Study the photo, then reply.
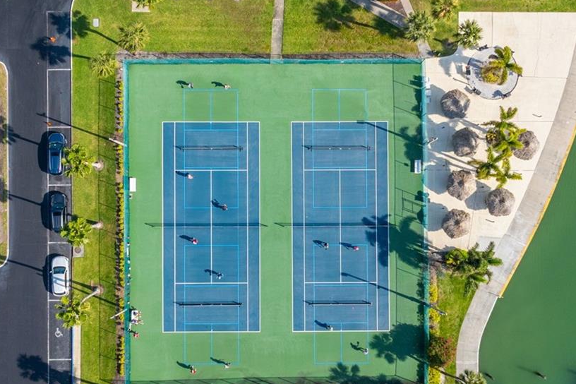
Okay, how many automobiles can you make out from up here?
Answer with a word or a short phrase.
3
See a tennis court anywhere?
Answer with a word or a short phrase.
Yes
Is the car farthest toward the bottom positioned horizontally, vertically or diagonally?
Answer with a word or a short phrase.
vertically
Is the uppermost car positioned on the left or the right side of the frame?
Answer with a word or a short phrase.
left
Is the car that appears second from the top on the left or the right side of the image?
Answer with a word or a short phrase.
left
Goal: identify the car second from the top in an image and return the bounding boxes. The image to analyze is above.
[46,190,66,232]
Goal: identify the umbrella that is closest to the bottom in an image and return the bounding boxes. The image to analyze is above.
[442,209,470,237]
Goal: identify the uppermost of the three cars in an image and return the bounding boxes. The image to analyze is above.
[45,131,66,174]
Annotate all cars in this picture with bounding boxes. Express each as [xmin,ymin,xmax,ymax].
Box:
[46,190,66,232]
[49,255,70,296]
[45,131,66,174]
